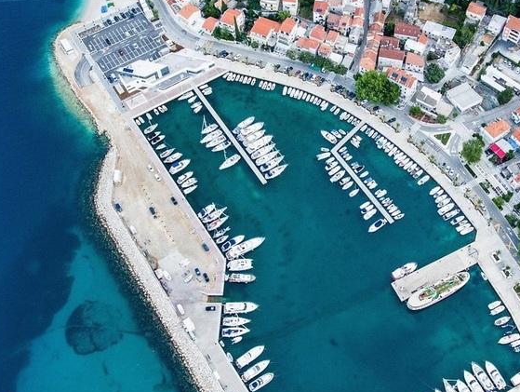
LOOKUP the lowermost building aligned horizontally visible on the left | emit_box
[117,59,216,93]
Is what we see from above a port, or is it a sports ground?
port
